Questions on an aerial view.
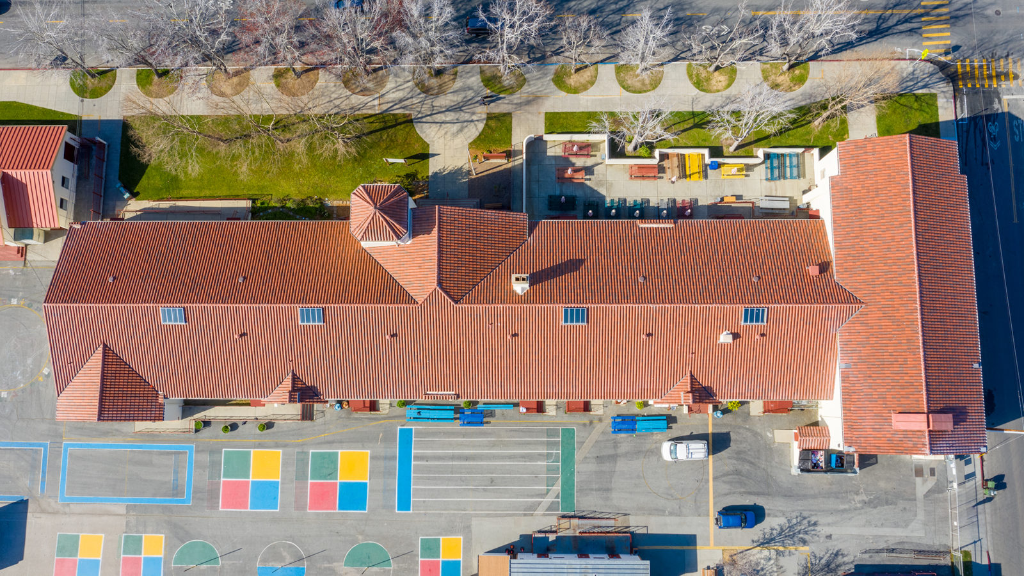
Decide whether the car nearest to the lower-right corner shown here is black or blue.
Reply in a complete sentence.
The color of the car nearest to the lower-right corner is blue.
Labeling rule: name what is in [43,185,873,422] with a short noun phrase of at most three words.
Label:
building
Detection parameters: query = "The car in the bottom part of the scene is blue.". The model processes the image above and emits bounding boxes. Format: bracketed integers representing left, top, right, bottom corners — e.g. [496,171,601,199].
[714,509,755,531]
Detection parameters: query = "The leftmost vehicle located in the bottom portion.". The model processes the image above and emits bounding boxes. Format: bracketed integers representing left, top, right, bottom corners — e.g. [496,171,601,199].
[661,440,710,462]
